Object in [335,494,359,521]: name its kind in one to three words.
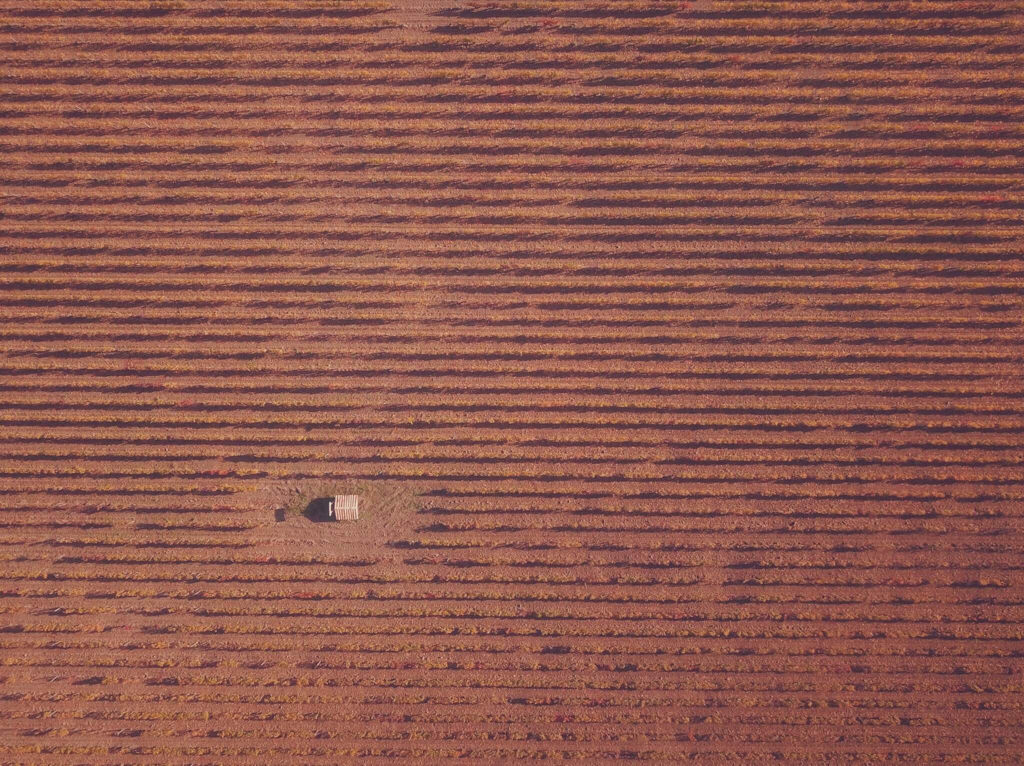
shed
